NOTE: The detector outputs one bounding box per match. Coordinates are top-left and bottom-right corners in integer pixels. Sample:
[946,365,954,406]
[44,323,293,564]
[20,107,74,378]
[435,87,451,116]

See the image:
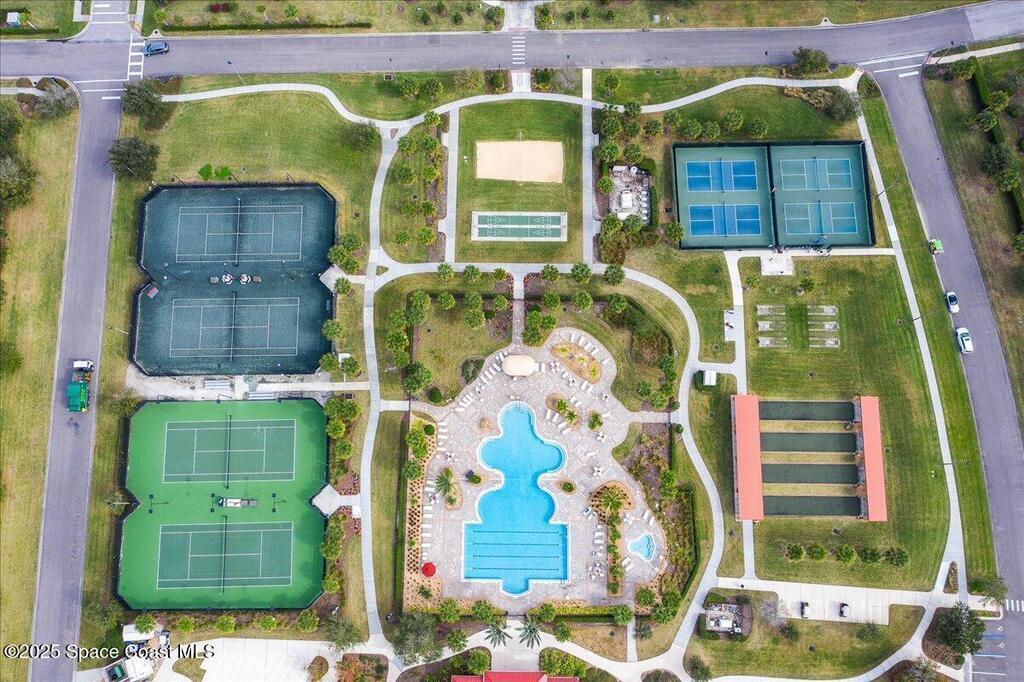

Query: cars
[956,328,975,354]
[145,42,168,55]
[945,290,961,314]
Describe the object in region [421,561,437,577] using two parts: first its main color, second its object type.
red umbrella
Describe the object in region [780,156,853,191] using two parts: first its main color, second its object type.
blue sports court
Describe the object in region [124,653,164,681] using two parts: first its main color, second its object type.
white truck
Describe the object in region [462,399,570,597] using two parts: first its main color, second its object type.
blue swimming pool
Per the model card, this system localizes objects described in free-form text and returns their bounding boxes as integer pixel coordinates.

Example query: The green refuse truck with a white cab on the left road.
[69,361,91,413]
